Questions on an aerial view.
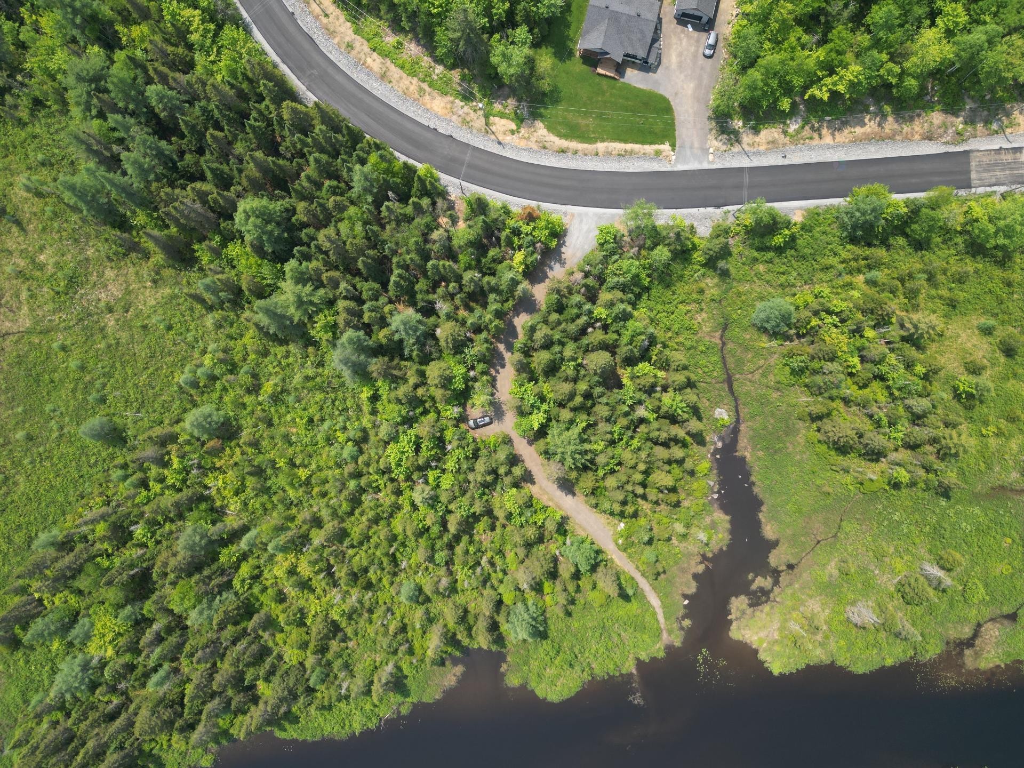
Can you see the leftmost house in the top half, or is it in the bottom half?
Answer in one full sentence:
Seen from above, the leftmost house lies in the top half of the view.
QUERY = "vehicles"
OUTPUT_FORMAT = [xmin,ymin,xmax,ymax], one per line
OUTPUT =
[703,30,718,59]
[468,416,494,429]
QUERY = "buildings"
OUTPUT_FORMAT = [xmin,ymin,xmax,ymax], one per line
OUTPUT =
[674,0,717,27]
[577,0,659,81]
